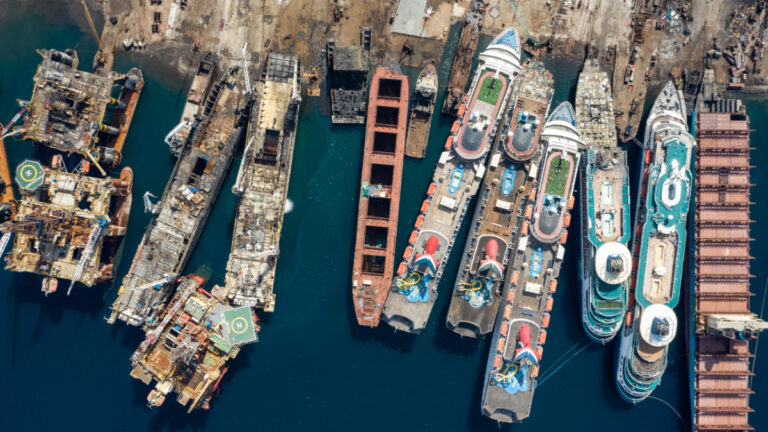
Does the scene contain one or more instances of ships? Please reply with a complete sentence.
Yes, I can see a ship in this picture.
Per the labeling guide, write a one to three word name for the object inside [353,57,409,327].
ship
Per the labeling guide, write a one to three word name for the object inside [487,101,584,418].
ship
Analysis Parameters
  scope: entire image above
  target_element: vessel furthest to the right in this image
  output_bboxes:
[683,66,768,432]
